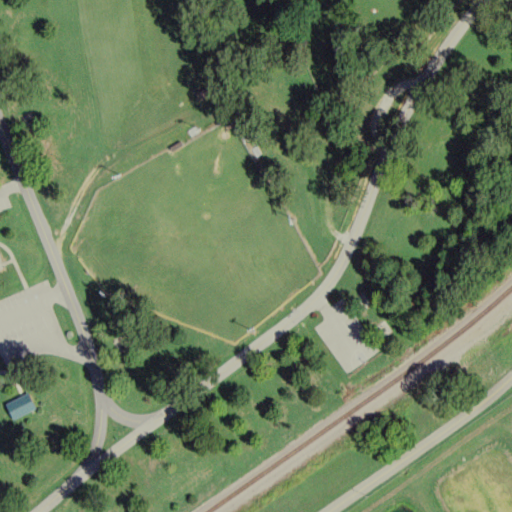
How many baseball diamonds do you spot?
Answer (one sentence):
The photo contains exactly 1 baseball diamond.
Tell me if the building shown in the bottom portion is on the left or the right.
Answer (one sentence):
It is on the left.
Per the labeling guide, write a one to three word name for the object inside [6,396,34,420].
building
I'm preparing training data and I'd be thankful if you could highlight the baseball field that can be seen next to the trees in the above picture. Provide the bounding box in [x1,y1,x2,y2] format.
[70,123,323,346]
